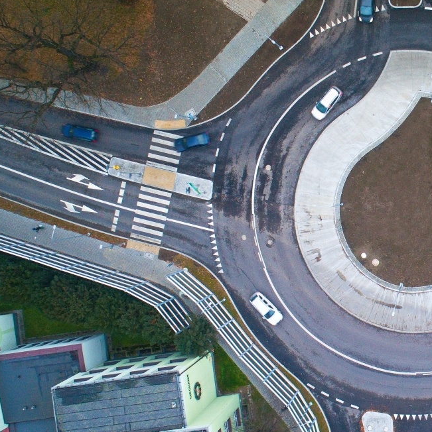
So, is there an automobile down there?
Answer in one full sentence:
Yes, there's an automobile down there.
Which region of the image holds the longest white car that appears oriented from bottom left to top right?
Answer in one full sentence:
The longest white car that appears oriented from bottom left to top right is in the top right part of the image.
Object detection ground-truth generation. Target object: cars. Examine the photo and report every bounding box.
[311,85,341,119]
[248,293,283,327]
[173,134,210,151]
[59,122,97,142]
[356,0,374,23]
